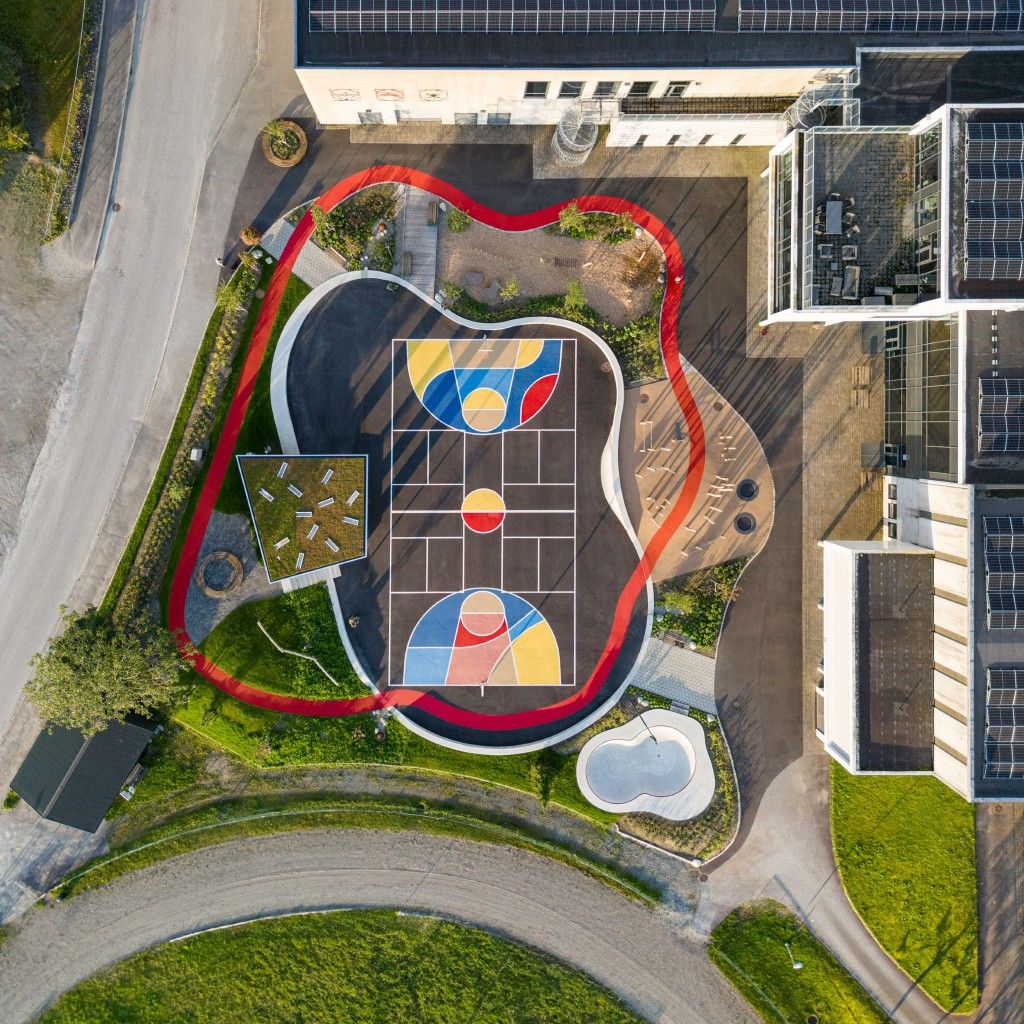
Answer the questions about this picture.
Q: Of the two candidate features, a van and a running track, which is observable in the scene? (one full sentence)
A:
The one in the frame is a running track.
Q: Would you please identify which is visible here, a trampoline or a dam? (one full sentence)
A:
There is a trampoline in the scene.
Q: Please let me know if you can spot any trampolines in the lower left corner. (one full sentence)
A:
No, looking in the lower left corner, there is no trampoline.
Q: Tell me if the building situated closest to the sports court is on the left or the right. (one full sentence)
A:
You can find the building situated closest to the sports court on the left side of the picture.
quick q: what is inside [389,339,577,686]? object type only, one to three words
sports court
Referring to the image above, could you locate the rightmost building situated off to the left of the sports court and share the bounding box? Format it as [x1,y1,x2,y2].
[237,455,368,595]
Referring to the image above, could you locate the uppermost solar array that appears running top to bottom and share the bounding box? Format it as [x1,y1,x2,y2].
[966,123,1024,279]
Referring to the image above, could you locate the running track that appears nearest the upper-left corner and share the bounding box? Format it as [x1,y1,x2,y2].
[167,163,705,731]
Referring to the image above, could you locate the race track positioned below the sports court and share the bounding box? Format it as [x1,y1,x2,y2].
[0,829,763,1024]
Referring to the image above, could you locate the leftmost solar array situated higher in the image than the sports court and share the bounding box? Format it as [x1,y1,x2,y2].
[307,0,720,33]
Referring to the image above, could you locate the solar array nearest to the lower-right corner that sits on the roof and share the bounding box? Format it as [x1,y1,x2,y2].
[986,670,1024,780]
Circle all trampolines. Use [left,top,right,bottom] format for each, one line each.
[734,512,756,534]
[737,479,759,501]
